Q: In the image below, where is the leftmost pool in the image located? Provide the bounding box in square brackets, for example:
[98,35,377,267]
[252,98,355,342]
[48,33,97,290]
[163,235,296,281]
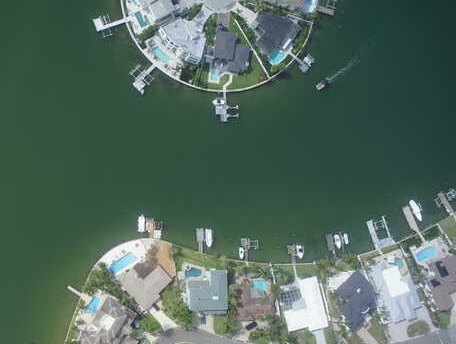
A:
[84,297,102,315]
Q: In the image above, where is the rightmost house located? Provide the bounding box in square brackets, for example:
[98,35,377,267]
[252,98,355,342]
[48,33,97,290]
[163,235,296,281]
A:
[426,255,456,311]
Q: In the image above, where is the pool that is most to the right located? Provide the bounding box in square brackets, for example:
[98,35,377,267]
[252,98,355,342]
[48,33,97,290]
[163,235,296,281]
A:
[415,245,437,261]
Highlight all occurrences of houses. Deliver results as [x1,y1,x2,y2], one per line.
[282,276,328,331]
[77,296,140,344]
[426,255,456,311]
[189,270,227,312]
[368,263,420,322]
[158,18,206,65]
[144,0,176,22]
[260,0,306,12]
[115,263,173,310]
[215,32,250,73]
[333,272,376,331]
[255,12,301,58]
